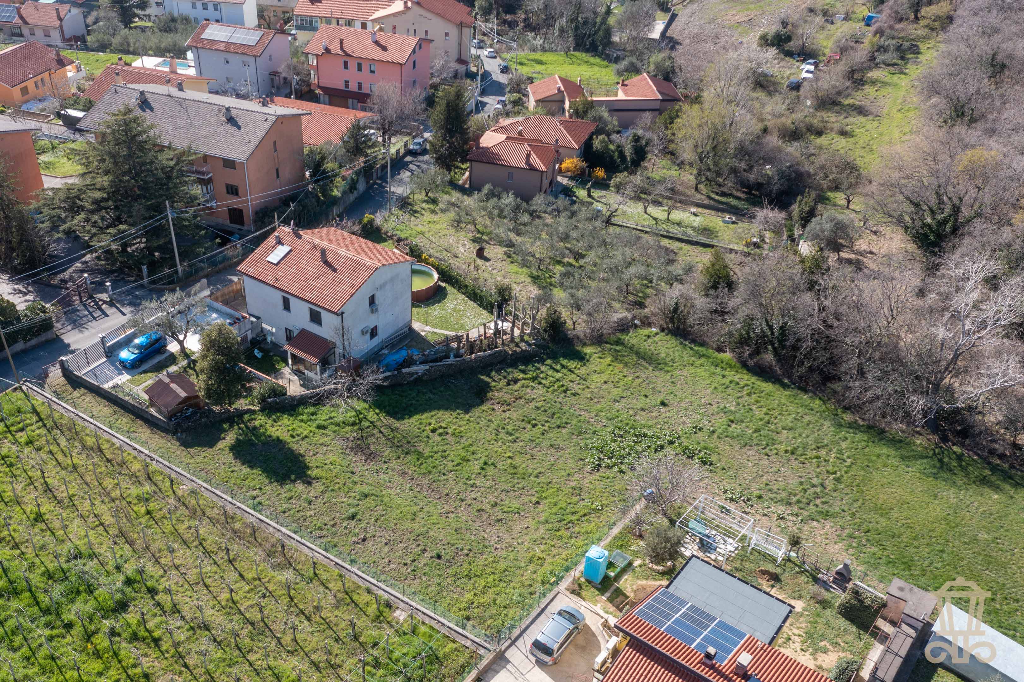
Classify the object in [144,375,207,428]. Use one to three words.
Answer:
shed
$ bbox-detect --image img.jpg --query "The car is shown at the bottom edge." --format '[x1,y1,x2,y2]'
[532,610,591,666]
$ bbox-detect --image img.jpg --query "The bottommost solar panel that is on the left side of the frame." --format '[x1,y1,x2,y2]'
[262,241,294,266]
